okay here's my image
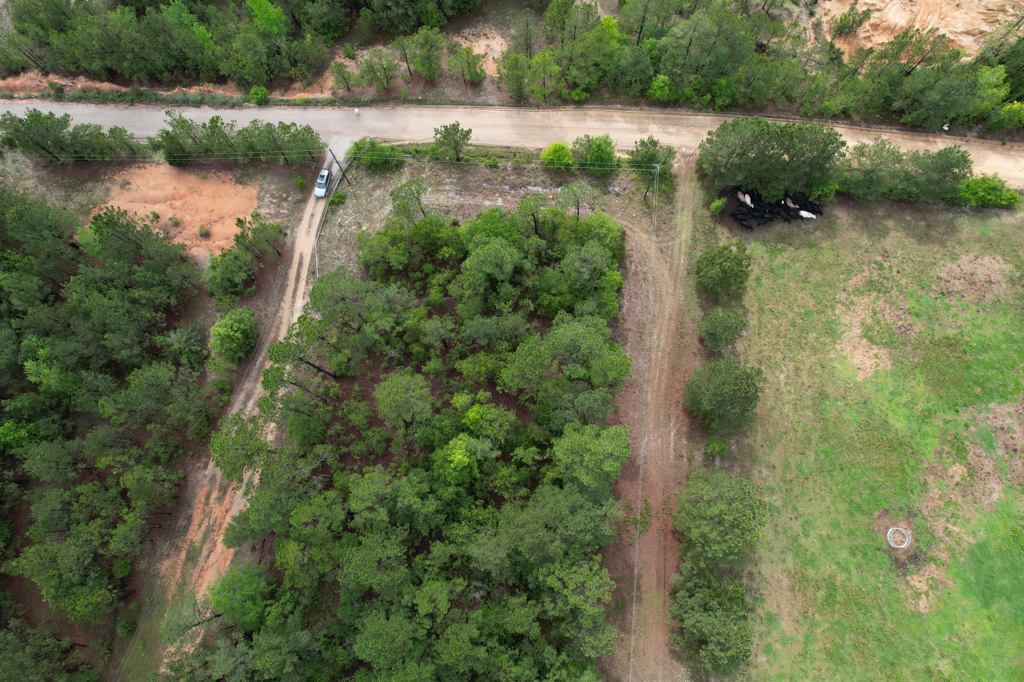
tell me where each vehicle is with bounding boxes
[314,168,332,199]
